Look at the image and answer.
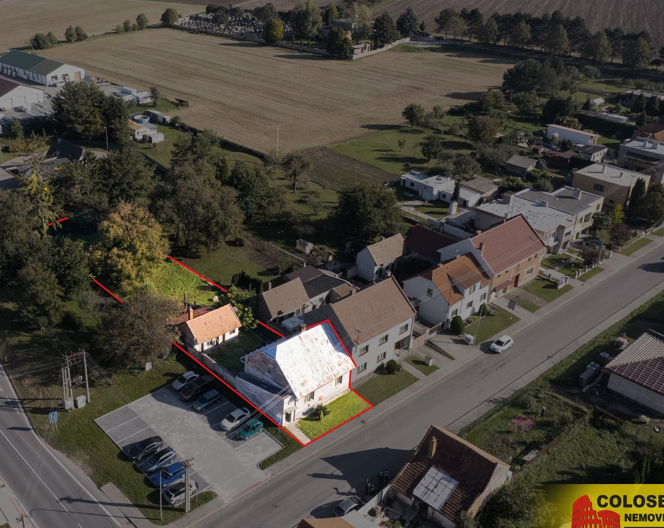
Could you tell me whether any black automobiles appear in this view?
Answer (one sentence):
Yes, the image includes a black automobile.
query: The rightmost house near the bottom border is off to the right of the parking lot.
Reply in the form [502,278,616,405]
[388,424,524,528]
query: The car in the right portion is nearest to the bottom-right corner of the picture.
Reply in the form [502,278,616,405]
[491,335,514,354]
